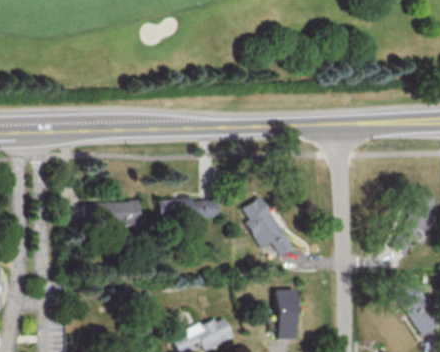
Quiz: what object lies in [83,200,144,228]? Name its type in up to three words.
house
